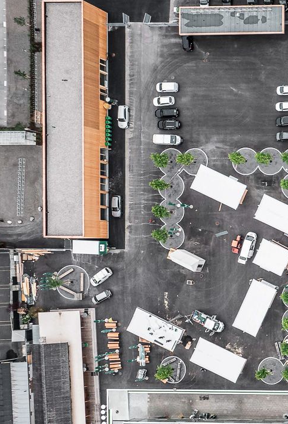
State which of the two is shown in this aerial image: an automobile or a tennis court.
automobile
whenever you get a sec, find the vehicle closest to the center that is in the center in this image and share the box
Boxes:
[110,193,123,217]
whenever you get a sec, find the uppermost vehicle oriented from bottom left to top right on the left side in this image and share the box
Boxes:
[90,266,114,287]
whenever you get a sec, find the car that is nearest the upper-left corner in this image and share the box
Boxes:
[116,105,130,129]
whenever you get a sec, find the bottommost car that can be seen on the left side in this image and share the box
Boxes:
[92,288,115,306]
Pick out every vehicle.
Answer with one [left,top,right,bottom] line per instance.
[235,231,258,264]
[245,0,257,6]
[229,234,241,254]
[275,100,288,112]
[116,105,130,129]
[158,118,183,130]
[276,85,288,96]
[155,107,180,118]
[92,288,115,306]
[151,133,182,146]
[110,193,123,217]
[220,0,233,6]
[155,81,180,93]
[197,0,210,6]
[277,0,288,13]
[90,266,114,287]
[182,35,195,56]
[276,130,288,142]
[275,116,288,127]
[191,309,226,333]
[153,94,177,106]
